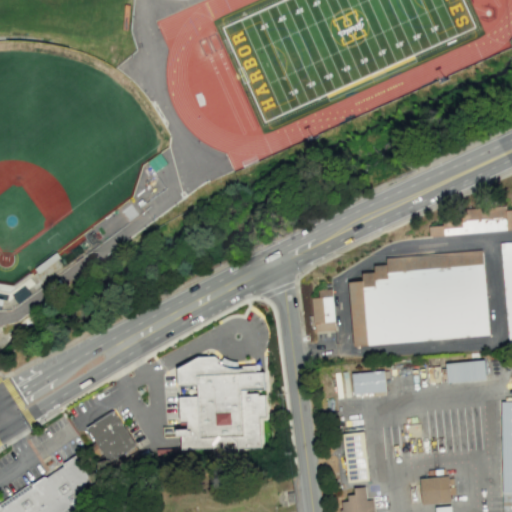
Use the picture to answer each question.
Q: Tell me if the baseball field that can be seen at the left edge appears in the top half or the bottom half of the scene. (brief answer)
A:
top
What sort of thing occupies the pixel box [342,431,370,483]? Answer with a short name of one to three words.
building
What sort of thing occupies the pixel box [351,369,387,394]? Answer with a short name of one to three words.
shed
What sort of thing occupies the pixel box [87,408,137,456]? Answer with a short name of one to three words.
building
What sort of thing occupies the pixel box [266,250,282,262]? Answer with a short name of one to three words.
vehicle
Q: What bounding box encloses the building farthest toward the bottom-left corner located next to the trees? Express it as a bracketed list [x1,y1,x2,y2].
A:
[0,454,94,512]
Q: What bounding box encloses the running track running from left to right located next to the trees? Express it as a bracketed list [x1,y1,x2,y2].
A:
[158,0,512,170]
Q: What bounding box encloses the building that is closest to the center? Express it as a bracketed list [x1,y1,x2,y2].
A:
[312,289,338,334]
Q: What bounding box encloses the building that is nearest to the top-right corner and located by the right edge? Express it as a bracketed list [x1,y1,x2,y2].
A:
[428,206,512,238]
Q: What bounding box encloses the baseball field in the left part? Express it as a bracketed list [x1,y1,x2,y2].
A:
[0,40,171,281]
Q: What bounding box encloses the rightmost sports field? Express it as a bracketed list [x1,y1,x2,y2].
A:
[214,0,485,134]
